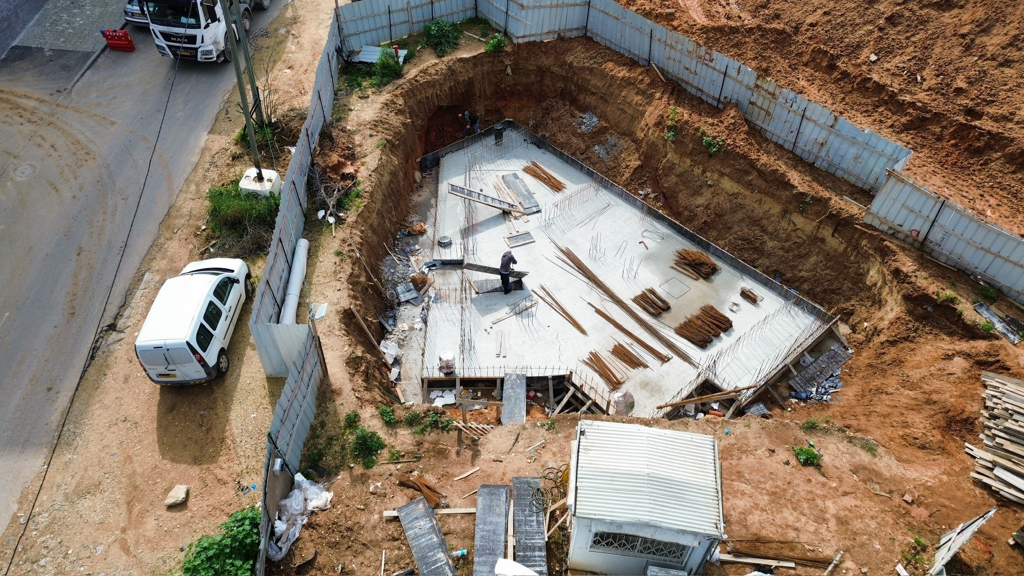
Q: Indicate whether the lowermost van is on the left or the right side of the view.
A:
left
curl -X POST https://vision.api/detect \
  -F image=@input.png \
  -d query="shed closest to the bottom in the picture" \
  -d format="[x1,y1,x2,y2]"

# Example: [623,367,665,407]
[569,404,733,576]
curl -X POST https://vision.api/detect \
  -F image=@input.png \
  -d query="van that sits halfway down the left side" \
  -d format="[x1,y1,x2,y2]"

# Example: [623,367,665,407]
[132,253,252,392]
